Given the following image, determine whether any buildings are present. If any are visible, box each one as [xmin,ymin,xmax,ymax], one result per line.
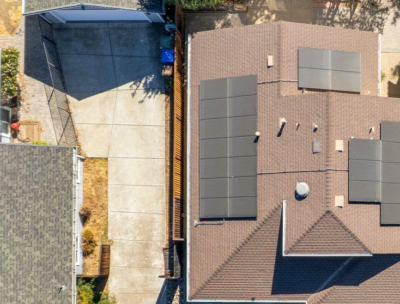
[0,45,85,304]
[184,20,400,304]
[20,0,168,25]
